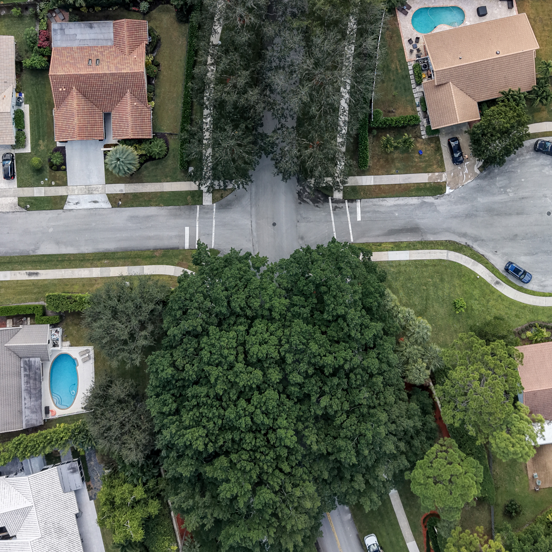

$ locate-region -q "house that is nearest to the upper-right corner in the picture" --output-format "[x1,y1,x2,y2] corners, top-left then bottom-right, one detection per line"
[421,12,540,130]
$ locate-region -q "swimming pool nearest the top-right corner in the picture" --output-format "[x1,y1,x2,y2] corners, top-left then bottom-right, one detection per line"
[410,4,467,34]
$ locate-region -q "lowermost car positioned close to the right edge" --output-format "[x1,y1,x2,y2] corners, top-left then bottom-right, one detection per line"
[501,260,534,285]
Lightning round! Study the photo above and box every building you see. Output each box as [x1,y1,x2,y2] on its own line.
[0,451,90,552]
[0,36,20,144]
[0,323,55,432]
[512,340,552,450]
[421,12,540,130]
[49,19,153,141]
